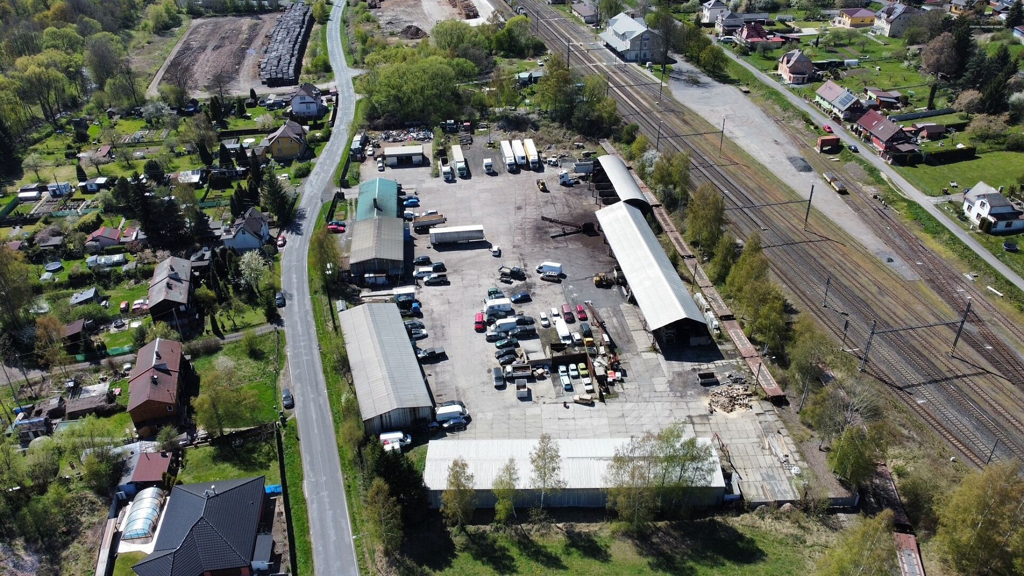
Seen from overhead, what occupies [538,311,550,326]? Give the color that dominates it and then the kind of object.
white vehicle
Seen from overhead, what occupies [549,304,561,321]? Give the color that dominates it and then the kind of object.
white vehicle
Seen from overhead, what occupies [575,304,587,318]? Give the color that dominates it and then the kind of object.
red vehicle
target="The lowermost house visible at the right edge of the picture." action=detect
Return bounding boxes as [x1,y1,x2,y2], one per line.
[959,179,1024,233]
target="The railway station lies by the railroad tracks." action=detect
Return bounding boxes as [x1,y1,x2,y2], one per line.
[590,12,663,63]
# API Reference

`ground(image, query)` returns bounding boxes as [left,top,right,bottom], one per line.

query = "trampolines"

[1001,236,1023,251]
[43,261,62,271]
